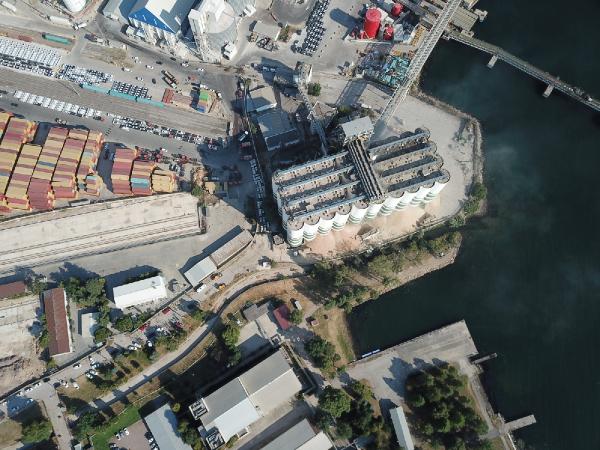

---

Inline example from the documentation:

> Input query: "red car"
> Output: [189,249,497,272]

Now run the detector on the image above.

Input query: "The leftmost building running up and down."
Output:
[44,287,74,357]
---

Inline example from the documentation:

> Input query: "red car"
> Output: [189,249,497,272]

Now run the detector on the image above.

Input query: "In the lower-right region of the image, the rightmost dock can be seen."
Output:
[499,413,537,435]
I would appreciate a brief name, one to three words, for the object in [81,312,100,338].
house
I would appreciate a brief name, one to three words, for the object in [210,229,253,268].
building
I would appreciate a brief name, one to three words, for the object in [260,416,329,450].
building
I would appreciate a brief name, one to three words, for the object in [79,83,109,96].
rail car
